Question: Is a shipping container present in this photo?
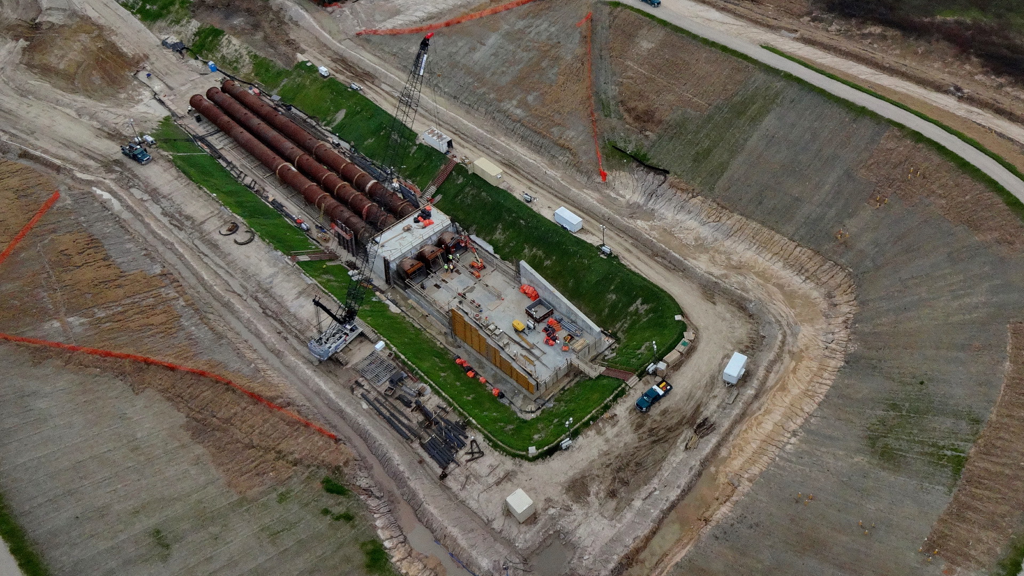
Yes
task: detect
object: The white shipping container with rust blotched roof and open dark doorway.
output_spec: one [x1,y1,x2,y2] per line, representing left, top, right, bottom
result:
[423,128,457,156]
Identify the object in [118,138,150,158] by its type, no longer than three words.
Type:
vehicle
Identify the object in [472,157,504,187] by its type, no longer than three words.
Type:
shipping container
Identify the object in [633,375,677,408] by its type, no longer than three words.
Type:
truck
